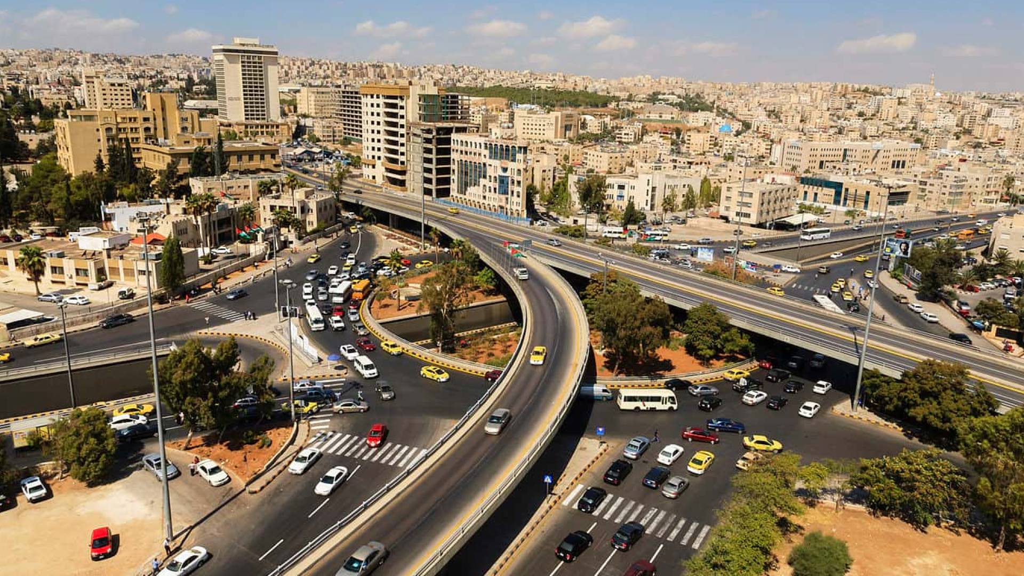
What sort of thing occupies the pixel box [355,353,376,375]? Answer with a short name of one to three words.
vehicle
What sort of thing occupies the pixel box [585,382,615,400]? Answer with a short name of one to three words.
vehicle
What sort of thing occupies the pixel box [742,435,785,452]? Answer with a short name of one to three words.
car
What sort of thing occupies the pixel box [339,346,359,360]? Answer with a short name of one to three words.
car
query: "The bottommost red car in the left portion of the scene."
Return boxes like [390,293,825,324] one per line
[88,527,114,562]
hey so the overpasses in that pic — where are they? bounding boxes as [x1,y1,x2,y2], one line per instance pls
[293,181,1024,425]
